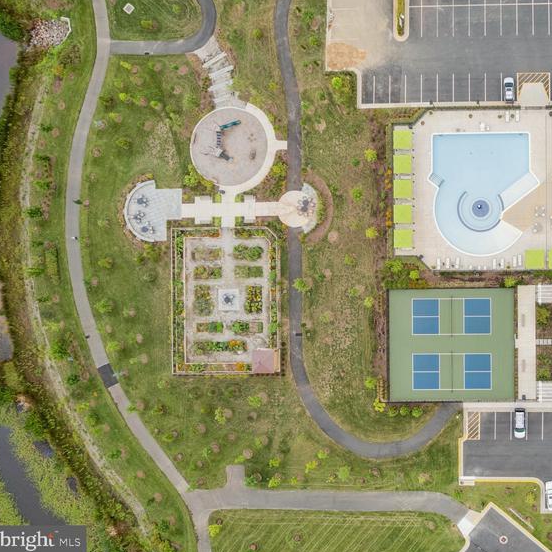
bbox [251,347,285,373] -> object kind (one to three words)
building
